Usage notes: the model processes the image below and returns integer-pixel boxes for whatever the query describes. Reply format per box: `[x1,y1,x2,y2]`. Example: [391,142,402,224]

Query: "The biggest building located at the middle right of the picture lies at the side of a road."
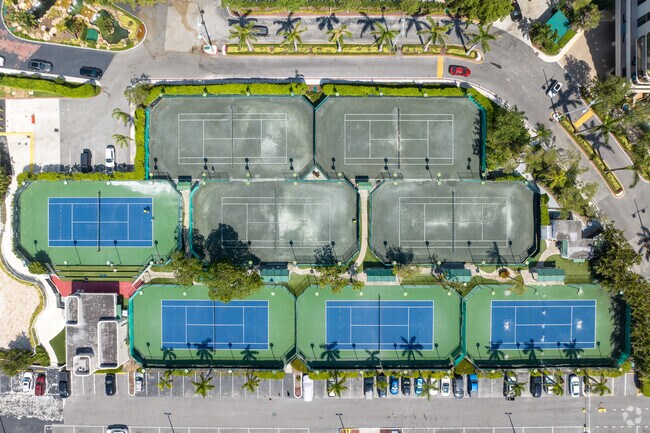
[543,220,604,263]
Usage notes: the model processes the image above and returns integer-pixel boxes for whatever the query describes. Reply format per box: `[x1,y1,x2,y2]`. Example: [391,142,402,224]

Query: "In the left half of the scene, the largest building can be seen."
[66,291,136,377]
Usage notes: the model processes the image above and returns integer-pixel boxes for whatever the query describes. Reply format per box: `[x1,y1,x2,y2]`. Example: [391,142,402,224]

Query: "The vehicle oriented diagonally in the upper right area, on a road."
[546,79,564,97]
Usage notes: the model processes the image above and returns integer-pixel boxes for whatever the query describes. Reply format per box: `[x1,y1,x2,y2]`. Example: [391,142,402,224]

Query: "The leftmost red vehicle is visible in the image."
[35,371,48,396]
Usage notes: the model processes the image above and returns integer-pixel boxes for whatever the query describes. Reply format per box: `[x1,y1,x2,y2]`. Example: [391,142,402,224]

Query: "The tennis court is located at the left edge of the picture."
[19,181,182,264]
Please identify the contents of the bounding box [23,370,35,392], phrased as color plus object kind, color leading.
white vehicle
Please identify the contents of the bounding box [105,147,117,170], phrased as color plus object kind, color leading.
white vehicle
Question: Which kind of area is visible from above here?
sports ground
